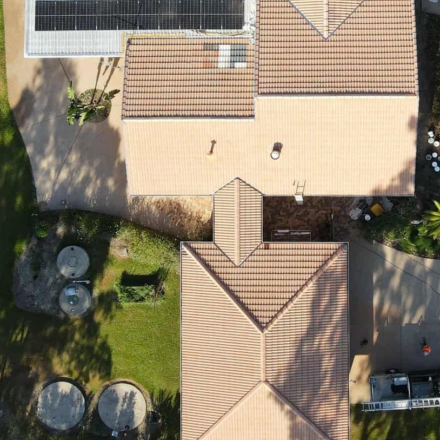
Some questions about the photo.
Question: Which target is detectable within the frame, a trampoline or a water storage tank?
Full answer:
The one in the frame is a water storage tank.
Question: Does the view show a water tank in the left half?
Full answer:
Yes, a water tank can be seen in the left half.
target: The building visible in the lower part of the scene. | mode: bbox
[177,239,351,440]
